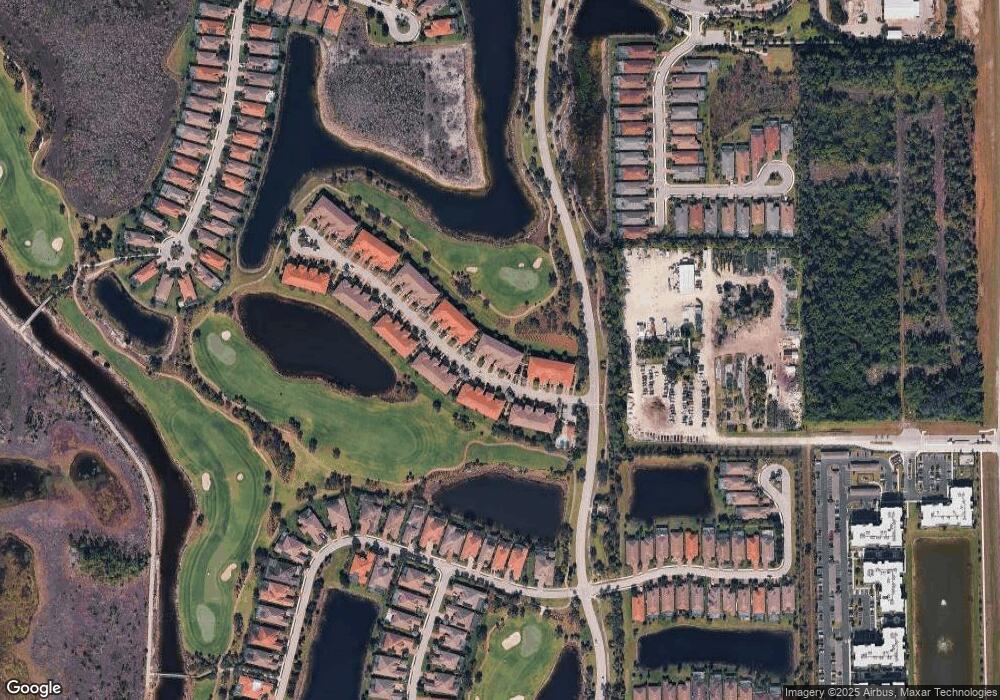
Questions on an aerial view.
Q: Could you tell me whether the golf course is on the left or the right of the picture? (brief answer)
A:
left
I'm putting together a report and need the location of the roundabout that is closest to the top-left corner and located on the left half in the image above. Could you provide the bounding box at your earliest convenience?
[160,234,192,268]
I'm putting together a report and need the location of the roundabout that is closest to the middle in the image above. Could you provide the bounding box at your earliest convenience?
[290,226,356,272]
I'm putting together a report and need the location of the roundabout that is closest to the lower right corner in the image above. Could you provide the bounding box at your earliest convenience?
[759,465,791,526]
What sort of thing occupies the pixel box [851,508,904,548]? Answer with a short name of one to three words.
building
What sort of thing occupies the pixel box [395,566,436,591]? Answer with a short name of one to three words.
house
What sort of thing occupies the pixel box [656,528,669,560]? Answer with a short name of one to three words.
house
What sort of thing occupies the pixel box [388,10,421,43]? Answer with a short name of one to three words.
roundabout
